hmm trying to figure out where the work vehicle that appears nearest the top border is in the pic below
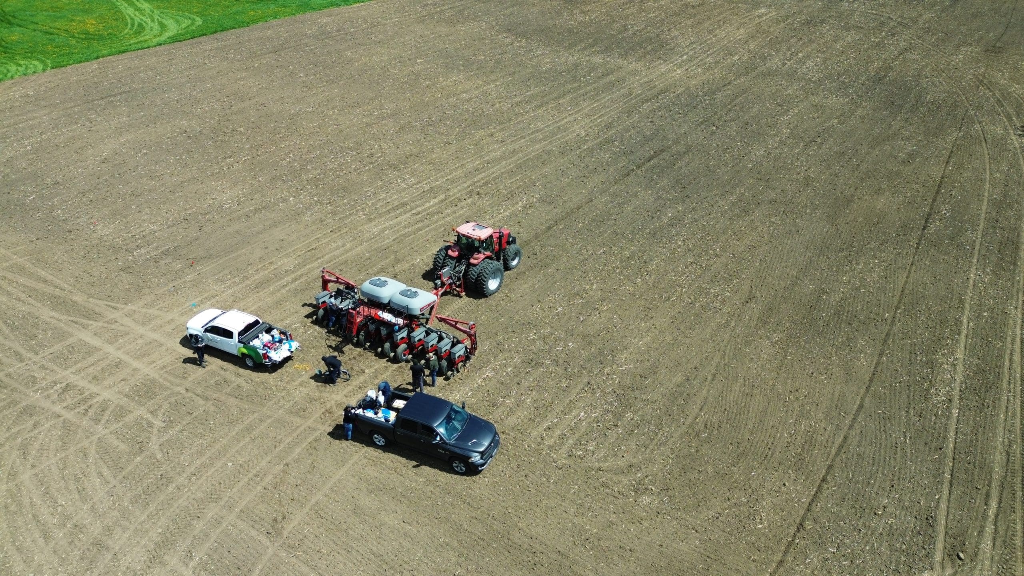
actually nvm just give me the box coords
[433,218,525,297]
